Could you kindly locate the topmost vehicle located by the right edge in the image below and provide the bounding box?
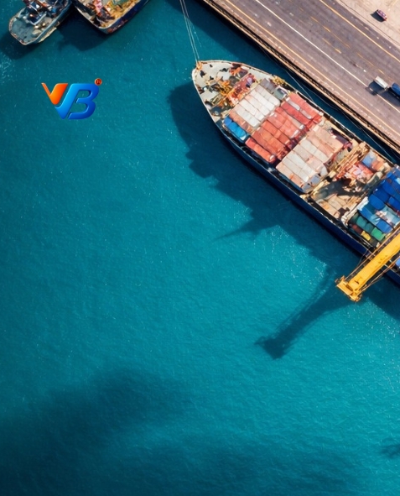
[373,6,388,21]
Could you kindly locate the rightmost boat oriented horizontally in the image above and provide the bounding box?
[73,0,175,42]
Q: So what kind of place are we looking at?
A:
port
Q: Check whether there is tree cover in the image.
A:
No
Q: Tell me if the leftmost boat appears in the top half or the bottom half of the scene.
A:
top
